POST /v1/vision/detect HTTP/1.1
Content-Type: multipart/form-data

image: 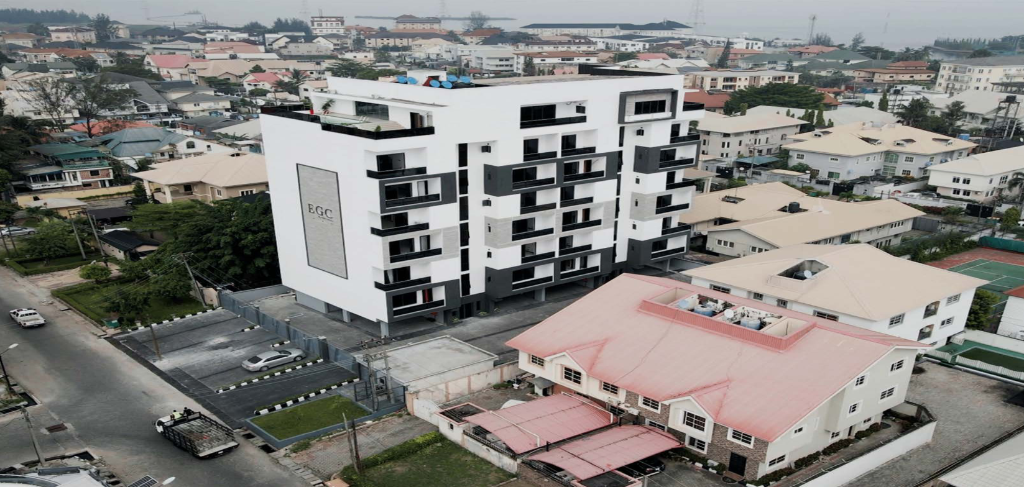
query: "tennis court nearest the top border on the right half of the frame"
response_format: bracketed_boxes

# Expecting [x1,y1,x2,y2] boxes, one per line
[954,259,1024,313]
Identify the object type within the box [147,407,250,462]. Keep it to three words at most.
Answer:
truck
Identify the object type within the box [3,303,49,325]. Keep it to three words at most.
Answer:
truck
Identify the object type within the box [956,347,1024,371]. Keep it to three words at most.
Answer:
sports court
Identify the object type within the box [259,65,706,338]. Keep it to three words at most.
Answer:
building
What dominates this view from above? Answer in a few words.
buildings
